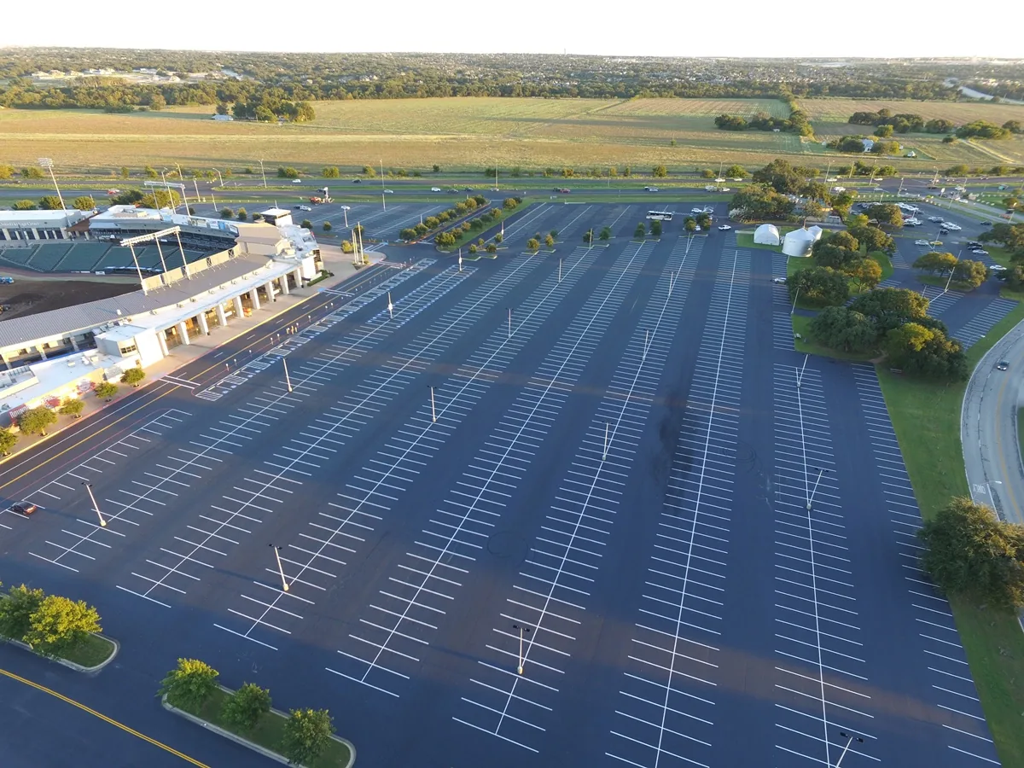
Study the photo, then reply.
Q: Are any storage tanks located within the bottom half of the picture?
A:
No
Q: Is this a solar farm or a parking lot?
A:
parking lot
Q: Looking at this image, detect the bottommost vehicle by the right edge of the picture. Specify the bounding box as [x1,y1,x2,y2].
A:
[995,358,1010,370]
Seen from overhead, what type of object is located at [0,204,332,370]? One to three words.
stadium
